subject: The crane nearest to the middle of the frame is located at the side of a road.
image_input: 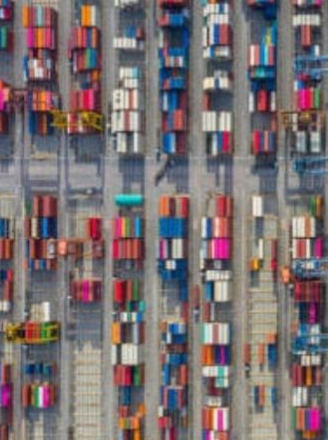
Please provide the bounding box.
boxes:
[51,238,106,262]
